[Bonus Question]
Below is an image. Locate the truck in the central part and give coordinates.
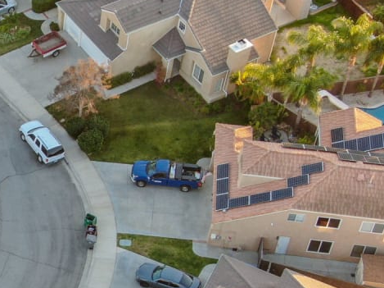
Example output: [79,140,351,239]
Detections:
[130,158,206,189]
